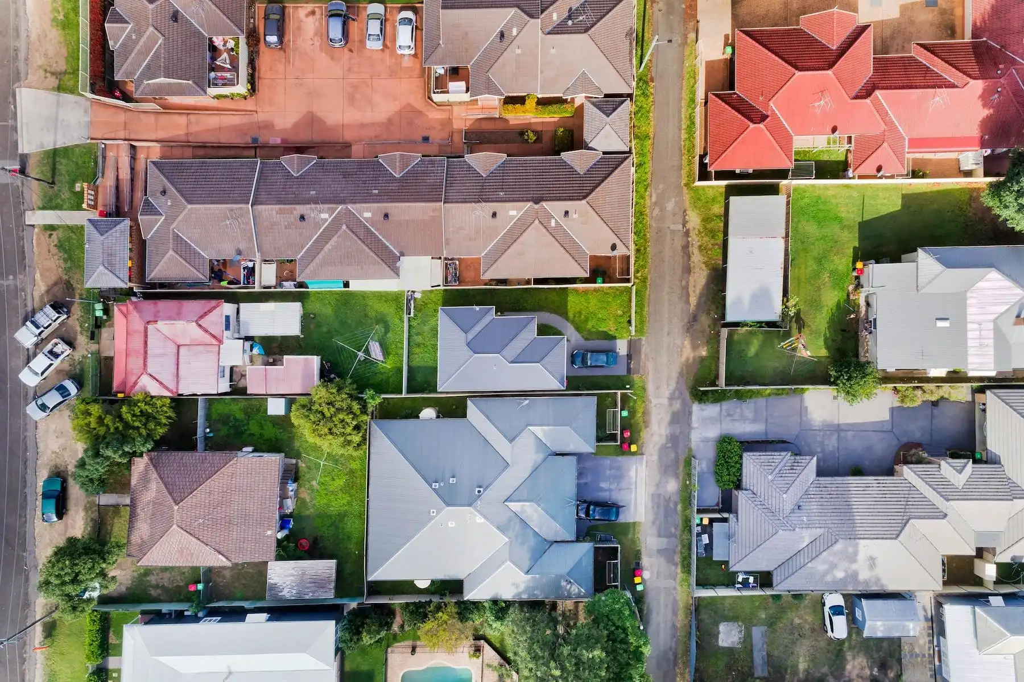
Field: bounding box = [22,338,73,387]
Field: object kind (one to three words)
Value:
car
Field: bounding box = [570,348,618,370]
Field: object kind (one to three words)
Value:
car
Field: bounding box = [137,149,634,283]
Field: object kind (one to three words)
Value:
house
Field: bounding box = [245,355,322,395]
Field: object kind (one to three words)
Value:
shed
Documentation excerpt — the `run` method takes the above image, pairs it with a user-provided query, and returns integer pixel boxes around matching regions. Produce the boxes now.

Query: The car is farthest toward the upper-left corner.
[263,5,285,51]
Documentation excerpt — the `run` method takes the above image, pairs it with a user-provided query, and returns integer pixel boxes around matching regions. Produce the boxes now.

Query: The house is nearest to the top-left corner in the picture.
[104,0,249,100]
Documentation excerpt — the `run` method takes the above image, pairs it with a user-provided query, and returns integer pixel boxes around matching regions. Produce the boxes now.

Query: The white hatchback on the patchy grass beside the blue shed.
[819,593,845,639]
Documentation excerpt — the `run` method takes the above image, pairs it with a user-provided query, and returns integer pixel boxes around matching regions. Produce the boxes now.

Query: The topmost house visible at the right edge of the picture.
[707,0,1024,175]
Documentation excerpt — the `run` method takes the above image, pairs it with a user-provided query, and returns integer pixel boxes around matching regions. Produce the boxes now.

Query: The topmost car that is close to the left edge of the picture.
[16,302,70,348]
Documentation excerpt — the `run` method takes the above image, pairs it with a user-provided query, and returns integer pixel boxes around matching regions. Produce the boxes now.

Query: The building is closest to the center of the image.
[437,305,568,392]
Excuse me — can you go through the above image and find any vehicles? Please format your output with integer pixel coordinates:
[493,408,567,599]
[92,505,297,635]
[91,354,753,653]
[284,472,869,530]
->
[819,593,845,639]
[42,477,68,522]
[22,338,73,387]
[364,4,386,52]
[570,348,618,370]
[326,3,356,48]
[394,11,417,58]
[578,499,622,521]
[16,302,70,348]
[29,379,81,420]
[263,5,285,51]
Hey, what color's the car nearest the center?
blue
